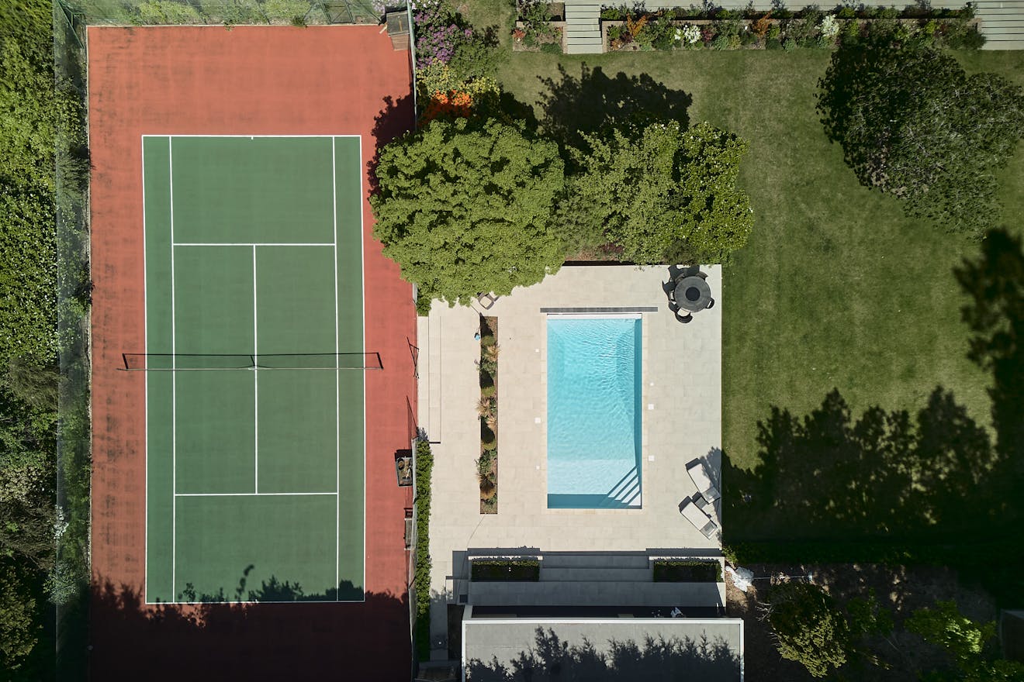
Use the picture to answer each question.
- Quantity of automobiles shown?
0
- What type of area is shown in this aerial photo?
sports ground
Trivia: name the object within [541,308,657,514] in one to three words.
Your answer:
swimming pool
